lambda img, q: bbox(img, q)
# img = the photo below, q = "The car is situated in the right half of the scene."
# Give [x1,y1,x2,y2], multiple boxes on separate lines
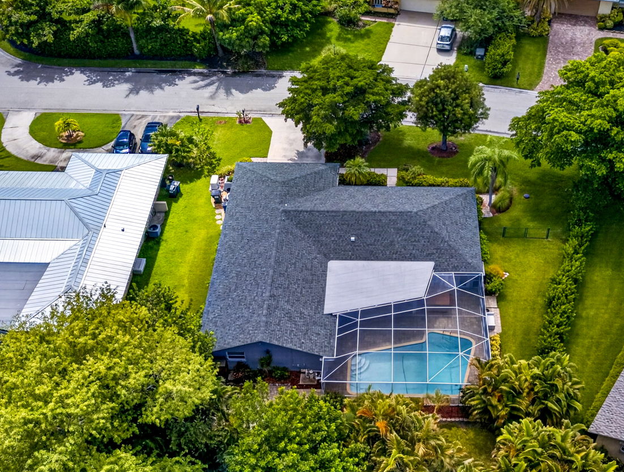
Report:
[434,26,458,50]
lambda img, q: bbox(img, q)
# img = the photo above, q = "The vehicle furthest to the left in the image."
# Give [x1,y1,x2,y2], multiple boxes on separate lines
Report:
[108,128,137,154]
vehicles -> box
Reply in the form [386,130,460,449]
[108,128,137,154]
[138,114,166,153]
[434,26,458,50]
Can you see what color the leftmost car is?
blue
